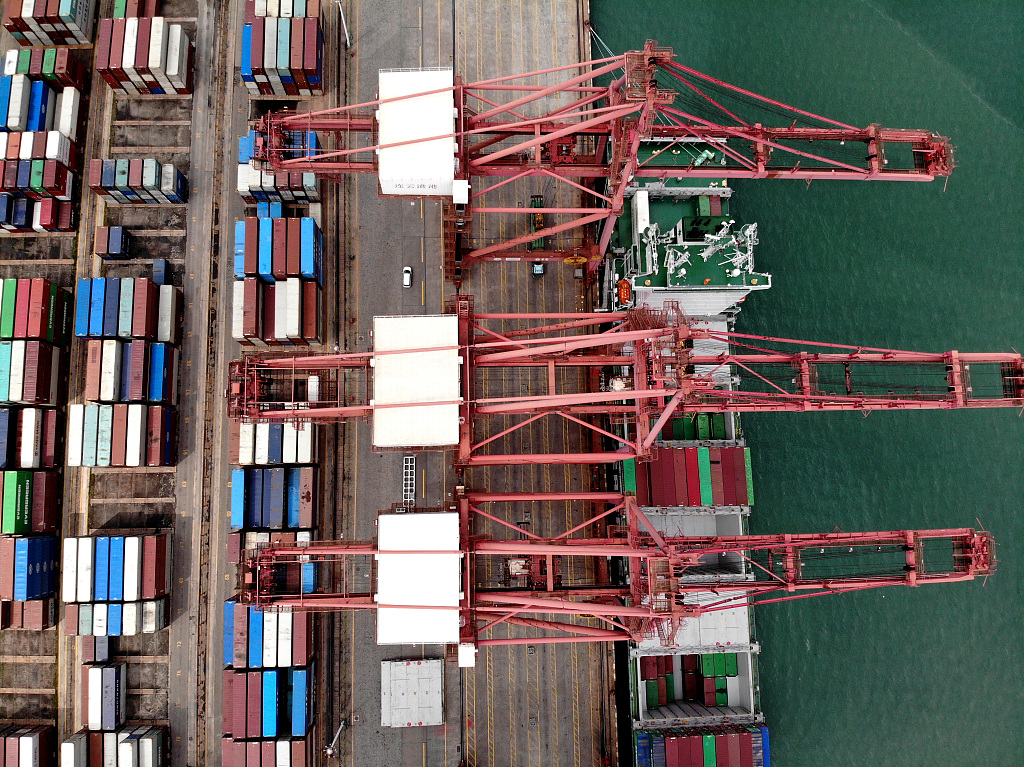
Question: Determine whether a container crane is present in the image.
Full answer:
Yes, a container crane can be made out from above.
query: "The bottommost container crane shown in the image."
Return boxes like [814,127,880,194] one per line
[236,466,1001,674]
